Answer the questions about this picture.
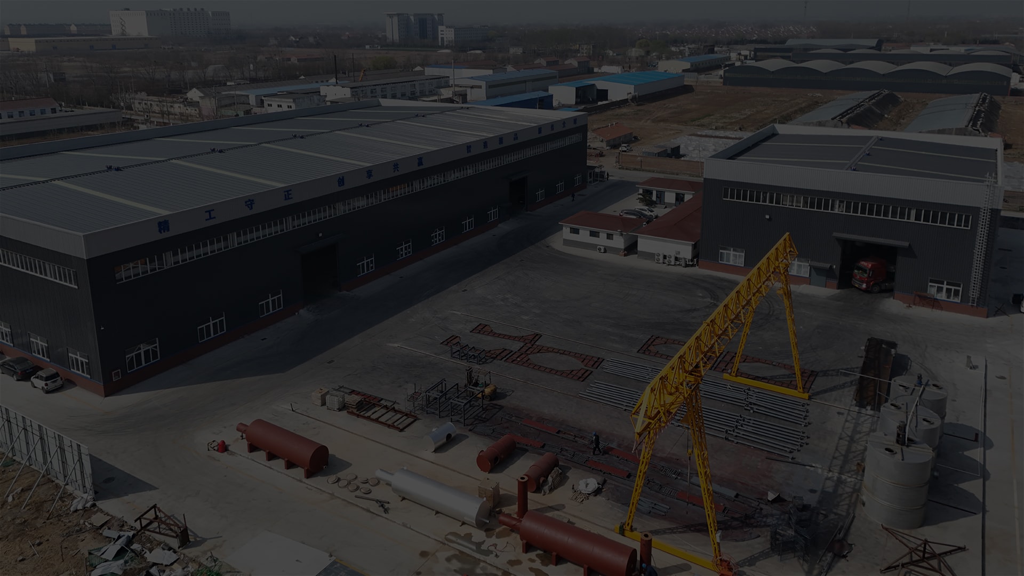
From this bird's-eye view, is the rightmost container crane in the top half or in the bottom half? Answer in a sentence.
You can find the rightmost container crane in the bottom half.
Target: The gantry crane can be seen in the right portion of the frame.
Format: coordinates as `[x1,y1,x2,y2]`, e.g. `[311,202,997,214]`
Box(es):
[616,224,813,576]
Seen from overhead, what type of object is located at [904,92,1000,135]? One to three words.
greenhouse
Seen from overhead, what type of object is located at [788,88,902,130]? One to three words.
greenhouse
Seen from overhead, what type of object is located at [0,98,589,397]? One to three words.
building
